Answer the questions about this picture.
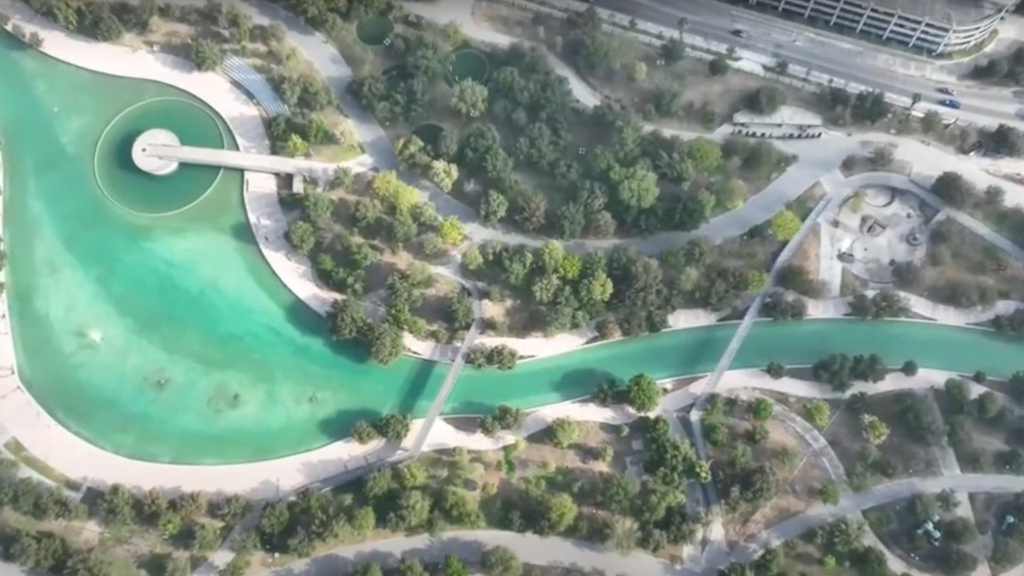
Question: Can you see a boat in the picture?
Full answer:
No, I can see no boat in this picture.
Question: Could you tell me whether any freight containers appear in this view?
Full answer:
No, the photo shows no freight container.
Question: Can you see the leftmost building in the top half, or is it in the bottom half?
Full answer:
The leftmost building is in the top half of the image.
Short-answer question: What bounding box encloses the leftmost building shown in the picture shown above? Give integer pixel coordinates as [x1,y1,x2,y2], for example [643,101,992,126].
[733,106,822,128]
